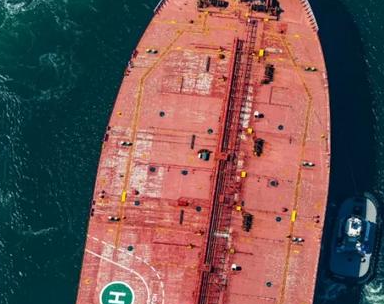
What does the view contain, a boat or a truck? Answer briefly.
boat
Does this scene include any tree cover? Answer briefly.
No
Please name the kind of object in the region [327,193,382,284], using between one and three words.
boat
